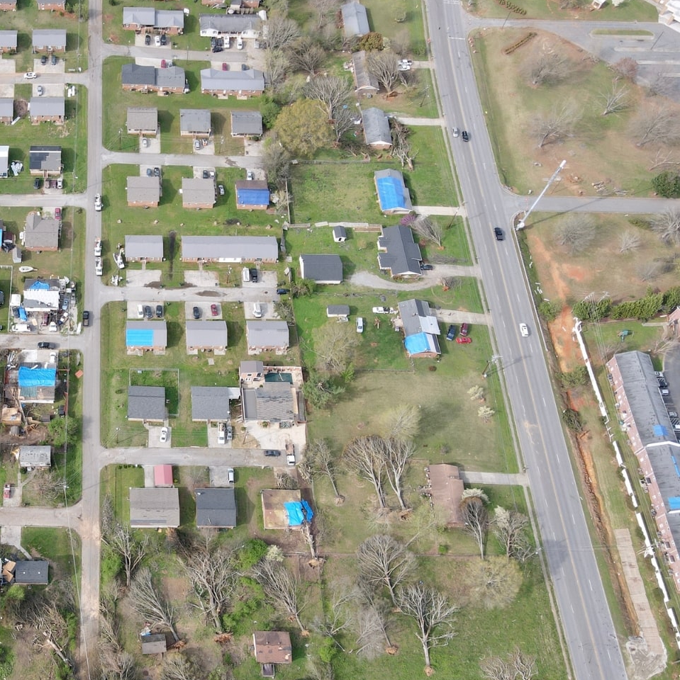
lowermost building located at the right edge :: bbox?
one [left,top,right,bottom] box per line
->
[601,352,680,645]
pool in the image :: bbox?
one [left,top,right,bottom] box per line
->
[267,371,295,383]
